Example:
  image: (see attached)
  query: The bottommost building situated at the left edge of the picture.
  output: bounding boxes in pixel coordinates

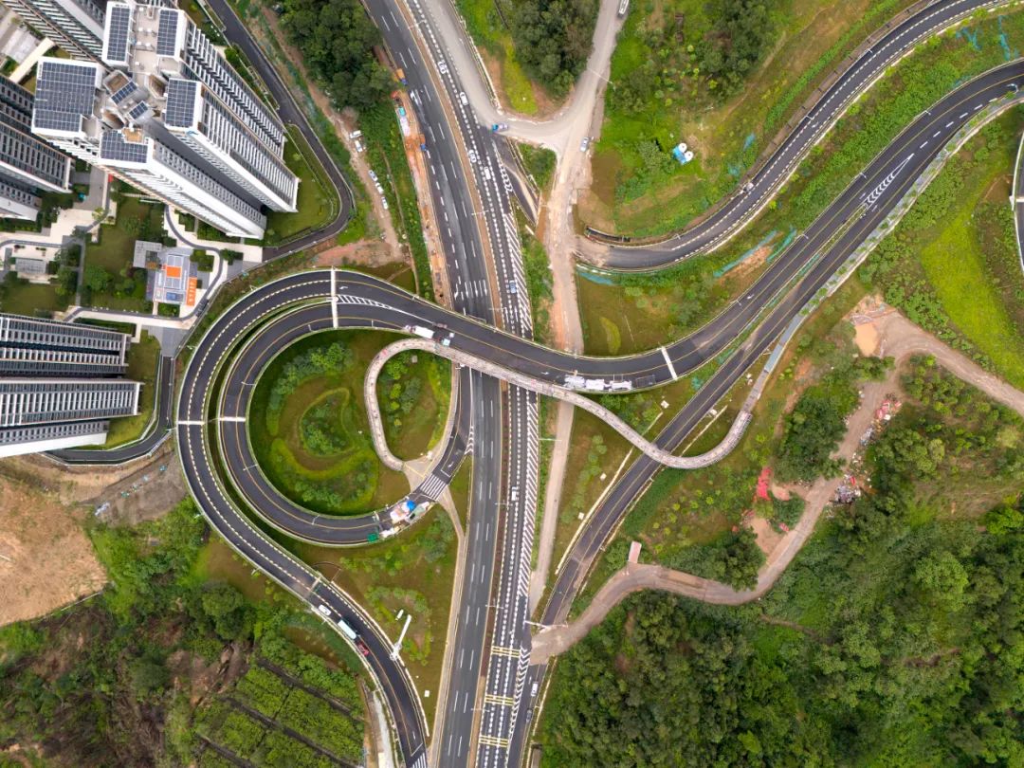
[0,381,141,460]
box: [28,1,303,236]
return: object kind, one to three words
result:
building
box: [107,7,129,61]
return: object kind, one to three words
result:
solar panel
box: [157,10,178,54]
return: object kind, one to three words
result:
solar panel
